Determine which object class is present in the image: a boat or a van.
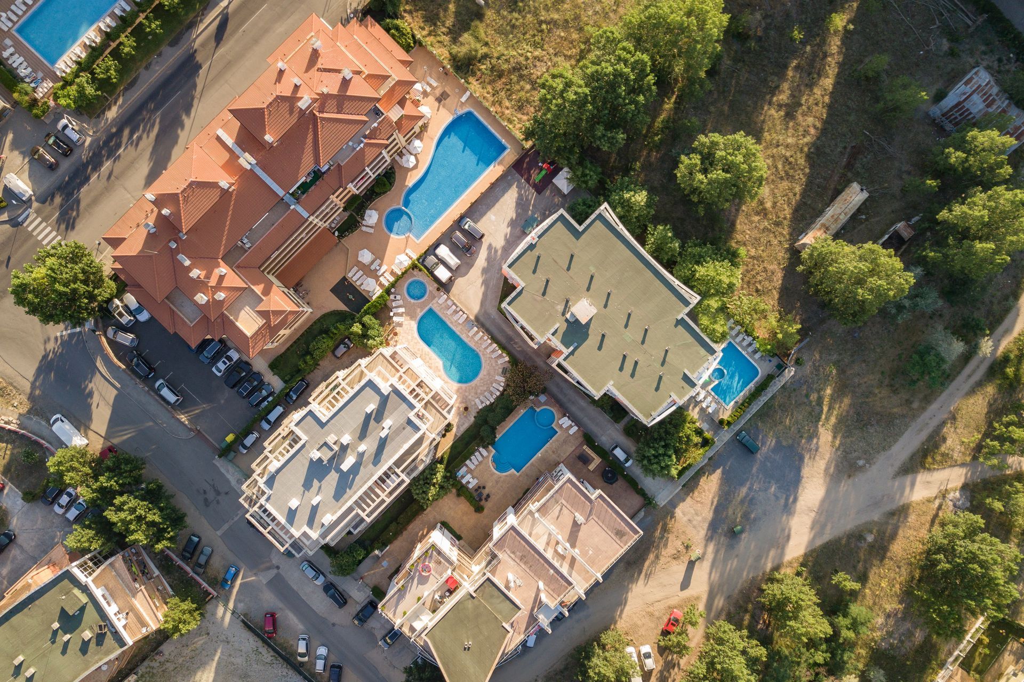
van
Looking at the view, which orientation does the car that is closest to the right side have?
on a diagonal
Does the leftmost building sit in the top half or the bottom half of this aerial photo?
bottom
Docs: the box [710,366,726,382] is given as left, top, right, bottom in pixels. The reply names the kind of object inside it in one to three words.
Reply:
swimming pool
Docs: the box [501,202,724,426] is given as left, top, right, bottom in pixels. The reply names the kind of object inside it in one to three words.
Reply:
building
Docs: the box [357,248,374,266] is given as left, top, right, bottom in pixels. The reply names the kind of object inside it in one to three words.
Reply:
umbrella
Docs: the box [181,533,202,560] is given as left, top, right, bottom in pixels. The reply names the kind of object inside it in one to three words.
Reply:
car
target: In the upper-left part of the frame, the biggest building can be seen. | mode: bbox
[101,12,434,359]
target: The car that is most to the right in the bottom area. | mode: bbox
[734,430,762,456]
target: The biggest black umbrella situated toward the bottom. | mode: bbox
[601,466,619,485]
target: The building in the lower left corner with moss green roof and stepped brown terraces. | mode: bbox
[0,540,187,682]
